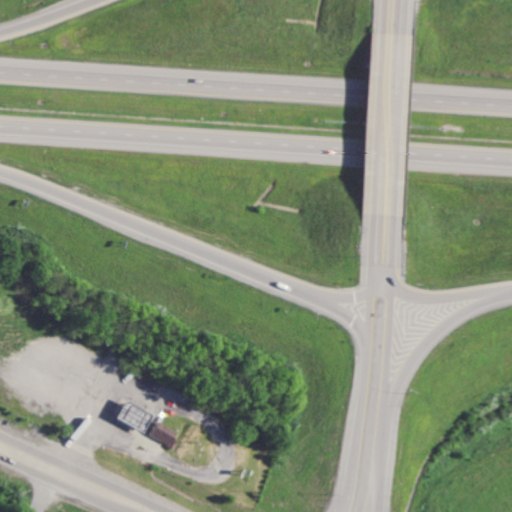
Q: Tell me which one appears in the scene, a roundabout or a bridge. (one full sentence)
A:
It is a bridge that can be seen here.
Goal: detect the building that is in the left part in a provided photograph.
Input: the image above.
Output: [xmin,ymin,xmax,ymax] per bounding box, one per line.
[146,424,177,450]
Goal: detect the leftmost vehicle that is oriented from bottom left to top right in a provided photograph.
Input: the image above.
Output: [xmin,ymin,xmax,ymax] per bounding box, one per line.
[65,414,92,448]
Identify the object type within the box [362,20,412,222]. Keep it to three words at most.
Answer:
bridge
